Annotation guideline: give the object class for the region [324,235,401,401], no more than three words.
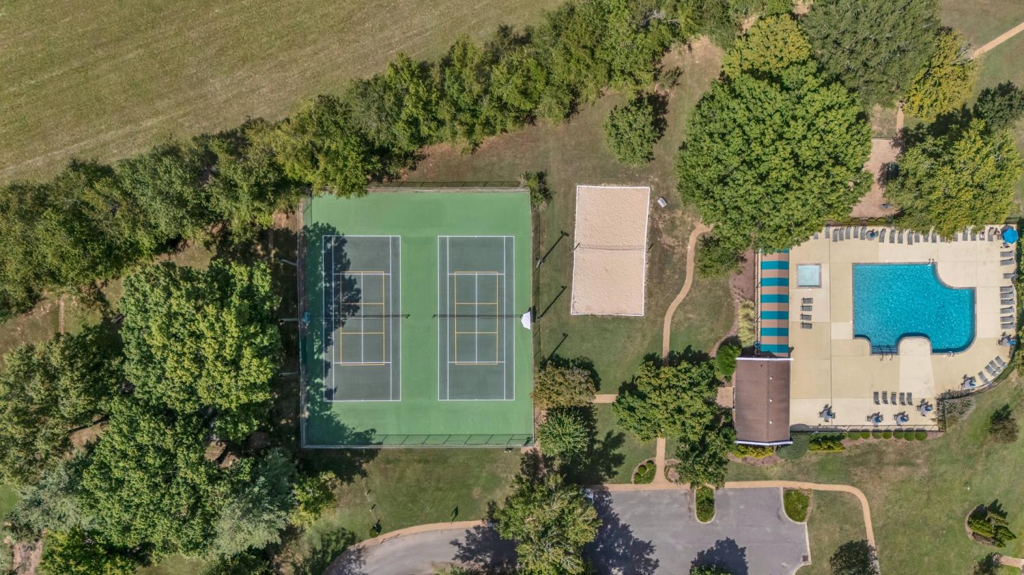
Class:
tennis court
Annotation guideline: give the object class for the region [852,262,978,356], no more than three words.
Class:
swimming pool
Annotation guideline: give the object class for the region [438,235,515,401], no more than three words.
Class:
tennis court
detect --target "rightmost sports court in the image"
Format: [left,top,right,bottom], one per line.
[571,185,650,316]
